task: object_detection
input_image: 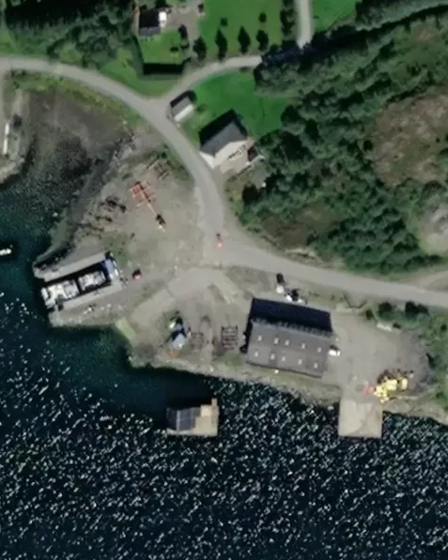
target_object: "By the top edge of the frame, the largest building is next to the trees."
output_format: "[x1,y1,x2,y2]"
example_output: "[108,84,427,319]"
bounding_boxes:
[139,10,161,35]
